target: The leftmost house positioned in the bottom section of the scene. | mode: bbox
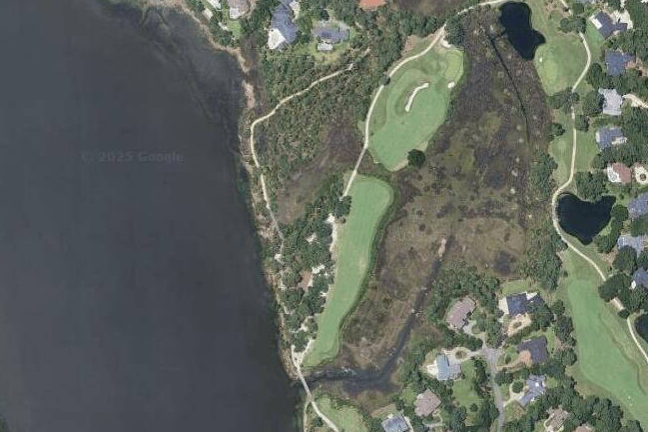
[383,413,408,432]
